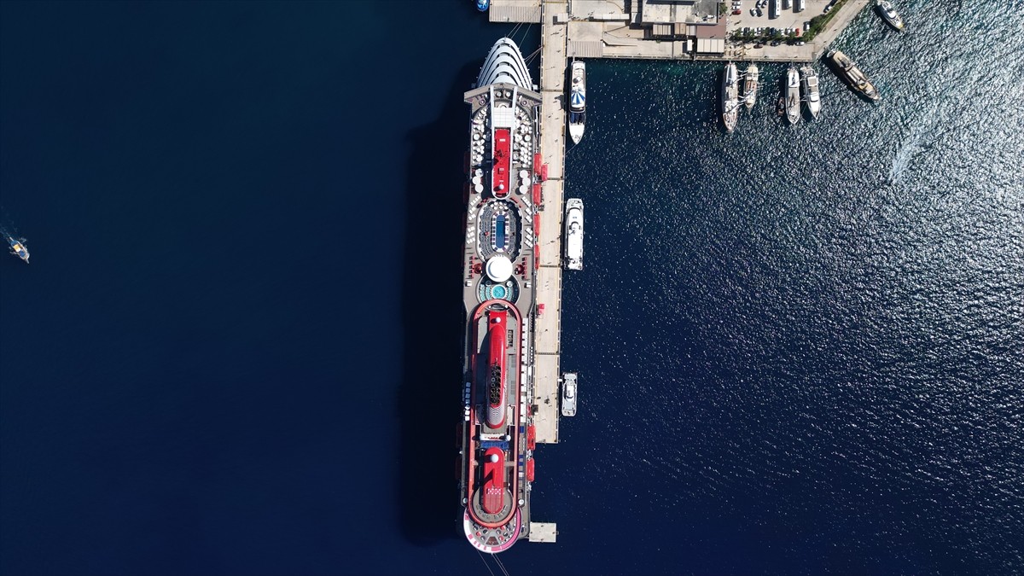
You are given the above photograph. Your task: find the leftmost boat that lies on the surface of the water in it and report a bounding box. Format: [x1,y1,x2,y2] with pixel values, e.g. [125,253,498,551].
[9,237,30,265]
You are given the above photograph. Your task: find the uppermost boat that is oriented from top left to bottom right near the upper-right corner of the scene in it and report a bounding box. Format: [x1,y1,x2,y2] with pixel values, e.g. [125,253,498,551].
[871,0,906,32]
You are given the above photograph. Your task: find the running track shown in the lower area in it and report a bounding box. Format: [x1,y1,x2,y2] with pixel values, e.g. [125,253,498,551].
[470,300,521,524]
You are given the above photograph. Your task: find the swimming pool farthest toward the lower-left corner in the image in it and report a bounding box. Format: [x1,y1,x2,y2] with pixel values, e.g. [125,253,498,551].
[489,284,509,299]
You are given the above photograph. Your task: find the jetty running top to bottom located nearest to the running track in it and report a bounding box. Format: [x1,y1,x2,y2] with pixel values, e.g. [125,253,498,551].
[535,0,569,443]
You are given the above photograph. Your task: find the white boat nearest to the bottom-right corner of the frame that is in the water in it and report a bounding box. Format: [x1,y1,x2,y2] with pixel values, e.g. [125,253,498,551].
[561,372,577,417]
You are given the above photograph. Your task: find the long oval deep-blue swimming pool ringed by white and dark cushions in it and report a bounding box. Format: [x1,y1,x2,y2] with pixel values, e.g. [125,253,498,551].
[491,211,510,253]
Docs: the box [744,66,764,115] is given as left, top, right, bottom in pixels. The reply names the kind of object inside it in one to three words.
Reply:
boat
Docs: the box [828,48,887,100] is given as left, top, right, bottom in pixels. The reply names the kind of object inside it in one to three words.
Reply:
boat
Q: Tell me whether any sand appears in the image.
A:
No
